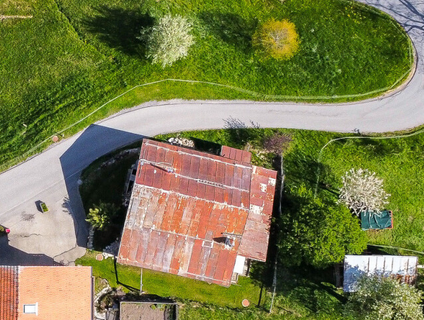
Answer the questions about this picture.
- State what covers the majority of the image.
grass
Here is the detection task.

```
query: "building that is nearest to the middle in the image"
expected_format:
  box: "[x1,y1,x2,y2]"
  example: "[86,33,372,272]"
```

[117,139,276,288]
